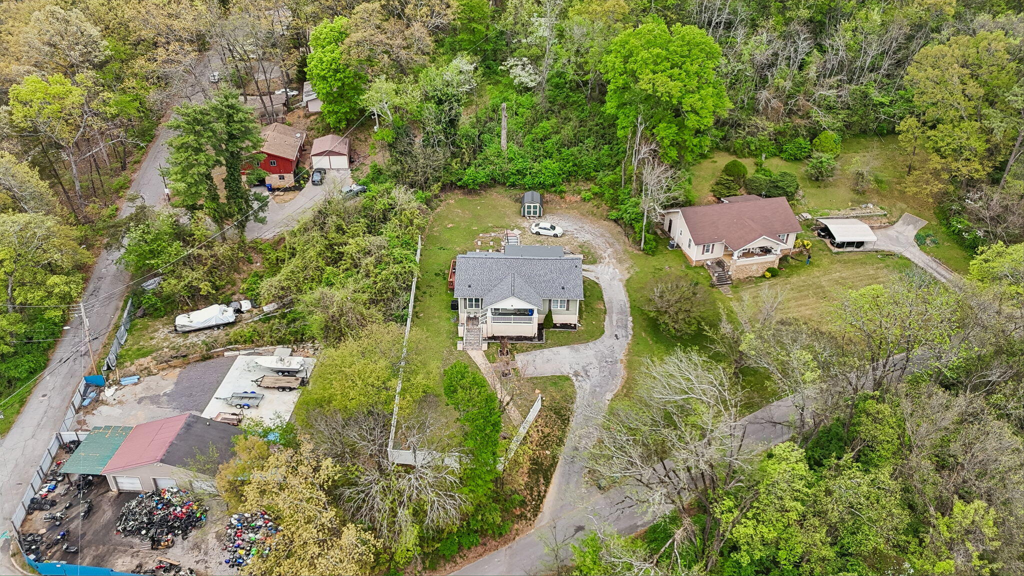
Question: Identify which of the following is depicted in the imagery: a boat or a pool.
boat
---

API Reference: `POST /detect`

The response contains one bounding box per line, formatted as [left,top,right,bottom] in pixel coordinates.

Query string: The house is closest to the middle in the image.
[445,245,585,350]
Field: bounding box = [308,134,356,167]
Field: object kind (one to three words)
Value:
building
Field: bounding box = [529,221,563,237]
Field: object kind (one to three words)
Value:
car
